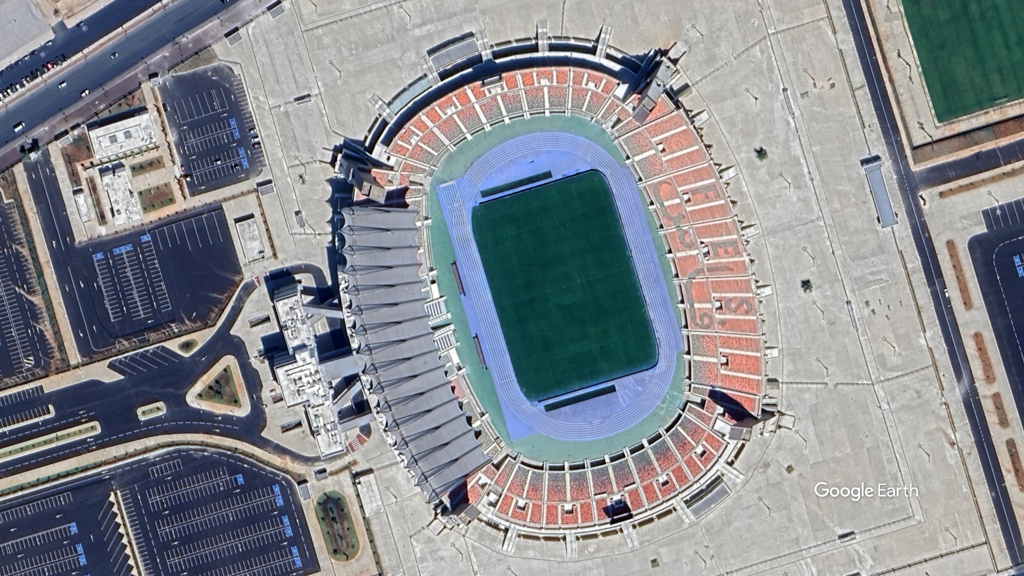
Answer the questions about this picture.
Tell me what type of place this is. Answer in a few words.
sports ground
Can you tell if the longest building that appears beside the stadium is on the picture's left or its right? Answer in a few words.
left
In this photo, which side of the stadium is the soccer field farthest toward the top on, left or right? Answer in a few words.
to the right of it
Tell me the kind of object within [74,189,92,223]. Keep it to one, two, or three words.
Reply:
building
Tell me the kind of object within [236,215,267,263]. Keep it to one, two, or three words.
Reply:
building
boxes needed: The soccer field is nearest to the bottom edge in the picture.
[471,172,658,402]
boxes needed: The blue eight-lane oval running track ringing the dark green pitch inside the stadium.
[430,115,683,463]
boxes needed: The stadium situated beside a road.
[320,19,795,558]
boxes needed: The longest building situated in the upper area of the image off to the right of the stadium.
[863,159,899,229]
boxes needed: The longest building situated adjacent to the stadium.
[257,283,349,459]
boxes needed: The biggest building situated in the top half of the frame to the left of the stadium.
[88,109,158,161]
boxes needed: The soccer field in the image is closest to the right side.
[869,0,1024,147]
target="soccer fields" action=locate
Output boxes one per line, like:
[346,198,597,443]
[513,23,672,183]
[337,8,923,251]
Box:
[471,172,658,402]
[869,0,1024,147]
